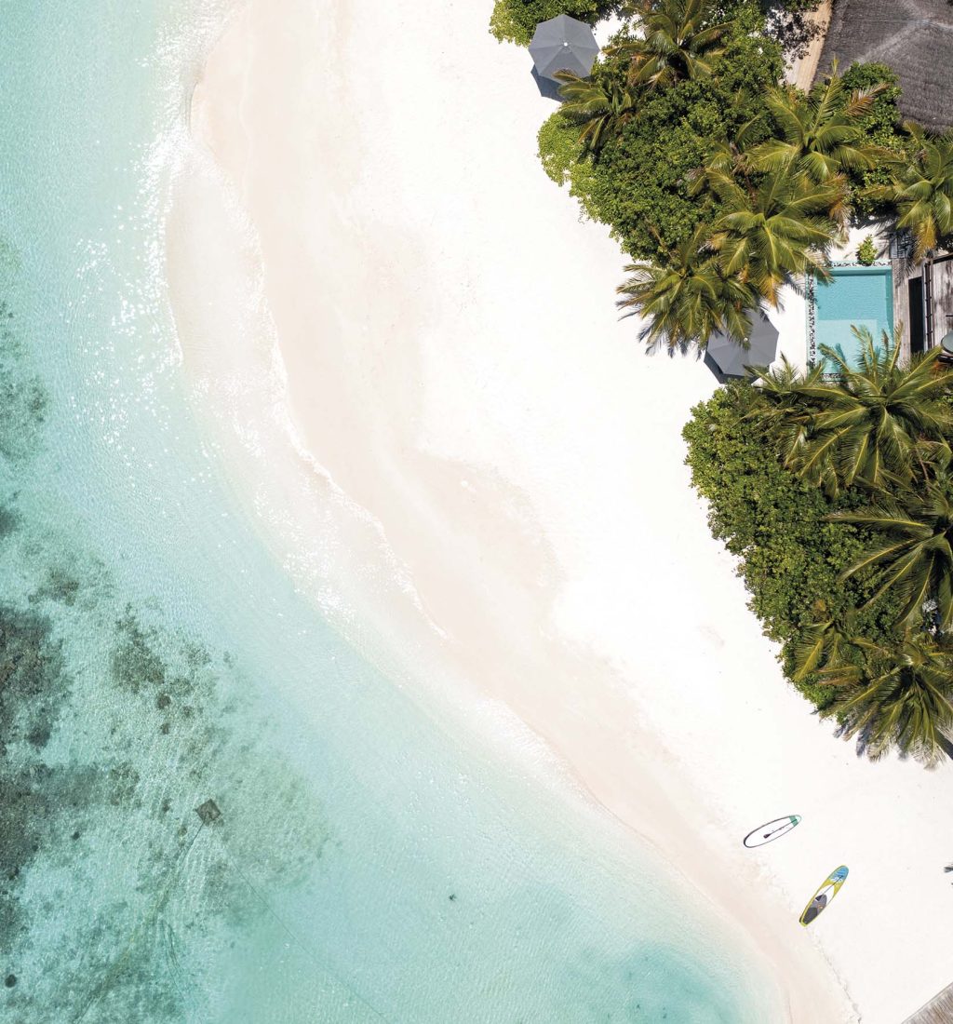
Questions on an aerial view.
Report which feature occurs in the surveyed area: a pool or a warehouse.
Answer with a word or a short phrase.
pool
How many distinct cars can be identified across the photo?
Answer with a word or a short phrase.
0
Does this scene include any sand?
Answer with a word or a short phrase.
Yes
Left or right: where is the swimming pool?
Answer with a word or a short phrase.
right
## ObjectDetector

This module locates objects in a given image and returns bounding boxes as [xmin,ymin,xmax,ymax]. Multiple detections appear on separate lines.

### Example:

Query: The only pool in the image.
[806,260,894,382]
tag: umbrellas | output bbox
[529,13,600,84]
[708,312,778,381]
